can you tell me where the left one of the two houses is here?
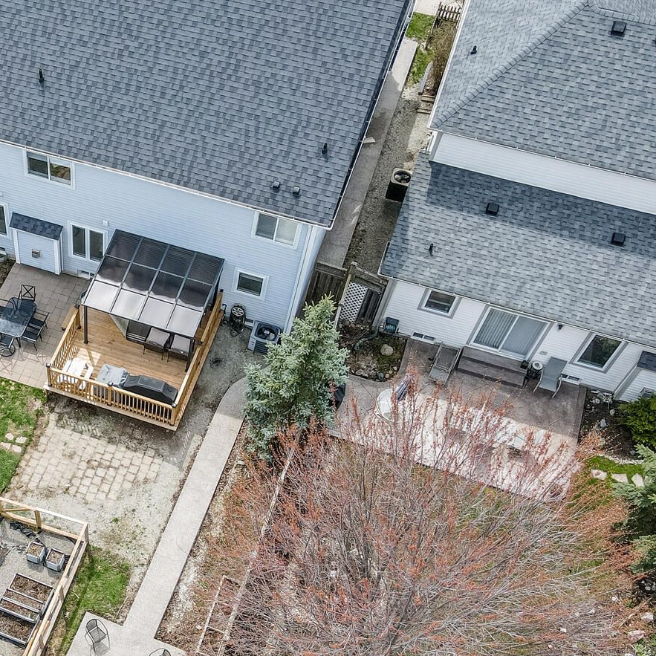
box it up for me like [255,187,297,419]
[0,0,410,338]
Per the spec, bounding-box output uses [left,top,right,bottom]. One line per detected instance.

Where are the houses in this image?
[374,0,656,412]
[0,0,410,338]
